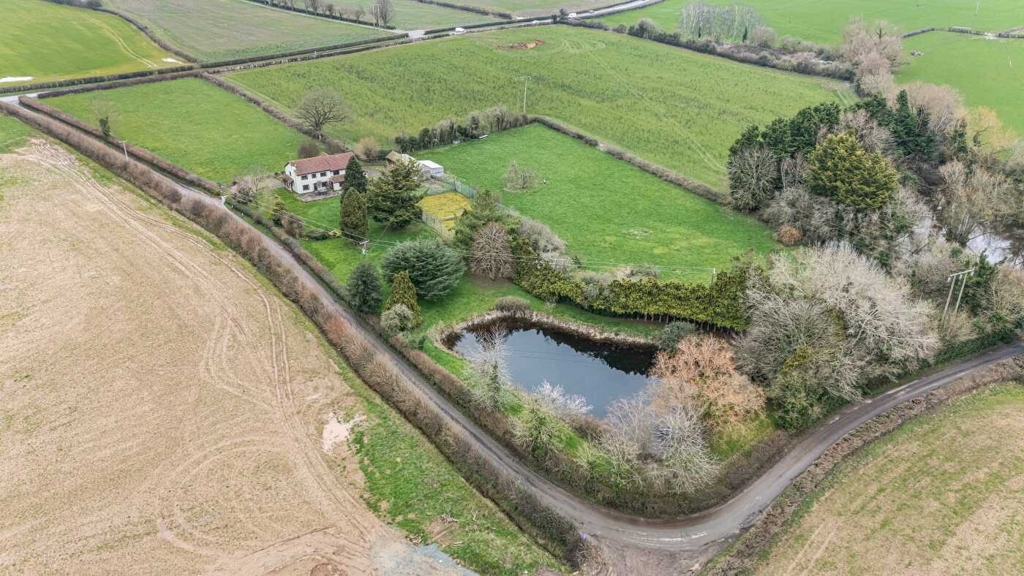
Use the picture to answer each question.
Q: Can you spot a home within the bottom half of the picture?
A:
No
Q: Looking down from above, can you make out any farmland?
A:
Yes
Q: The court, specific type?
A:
tennis court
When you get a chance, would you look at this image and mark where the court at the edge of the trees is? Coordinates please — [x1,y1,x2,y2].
[418,190,475,238]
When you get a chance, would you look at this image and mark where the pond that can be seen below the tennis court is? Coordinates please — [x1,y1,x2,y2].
[450,324,670,425]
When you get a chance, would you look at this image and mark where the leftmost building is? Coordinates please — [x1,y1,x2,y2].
[282,148,351,193]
